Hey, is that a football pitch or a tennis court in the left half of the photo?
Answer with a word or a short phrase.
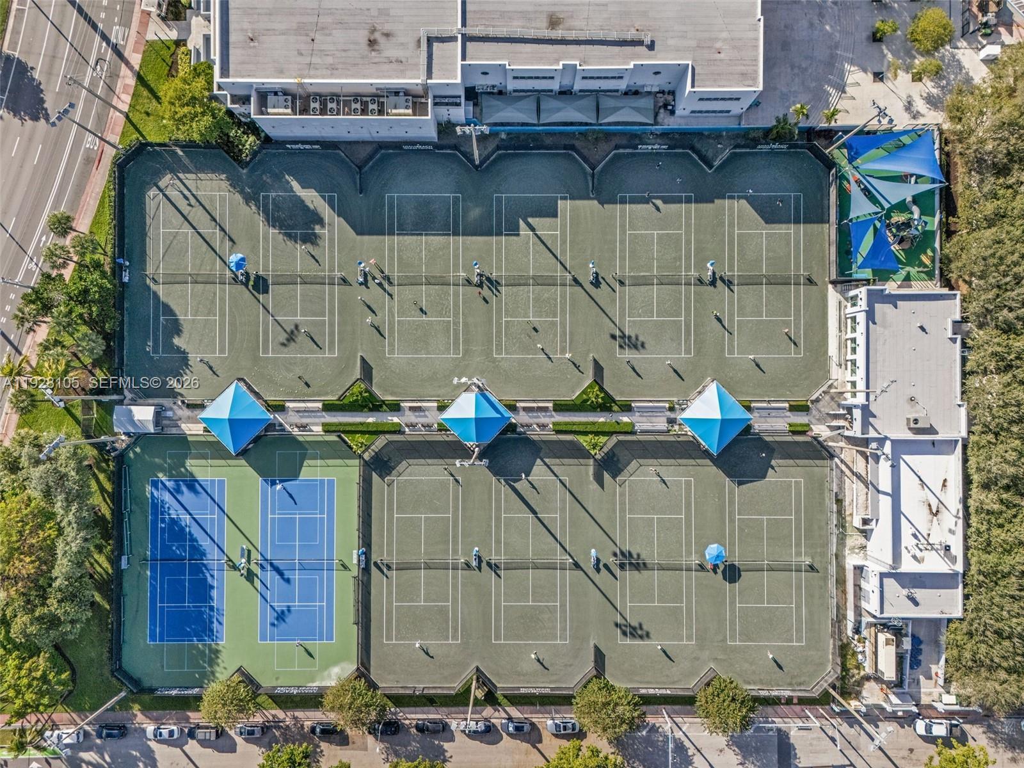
tennis court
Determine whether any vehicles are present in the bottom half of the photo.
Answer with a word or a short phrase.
Yes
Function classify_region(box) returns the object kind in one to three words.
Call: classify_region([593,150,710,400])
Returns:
tennis court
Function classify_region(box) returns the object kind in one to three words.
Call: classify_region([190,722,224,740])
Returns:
car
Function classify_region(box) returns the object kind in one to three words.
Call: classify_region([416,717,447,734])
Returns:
car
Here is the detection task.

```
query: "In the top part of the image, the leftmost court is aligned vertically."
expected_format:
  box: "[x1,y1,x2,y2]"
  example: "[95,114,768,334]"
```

[124,148,243,400]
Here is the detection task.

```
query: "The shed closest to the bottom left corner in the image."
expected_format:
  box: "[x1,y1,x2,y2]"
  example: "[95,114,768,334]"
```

[115,407,171,433]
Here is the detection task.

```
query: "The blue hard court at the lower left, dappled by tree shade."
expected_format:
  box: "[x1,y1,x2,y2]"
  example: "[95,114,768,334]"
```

[122,436,241,687]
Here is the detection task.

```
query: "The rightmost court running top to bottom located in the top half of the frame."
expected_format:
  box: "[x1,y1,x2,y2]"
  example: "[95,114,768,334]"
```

[710,150,831,400]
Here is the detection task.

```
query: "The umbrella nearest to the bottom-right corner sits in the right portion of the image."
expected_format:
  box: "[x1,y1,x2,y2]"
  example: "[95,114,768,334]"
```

[705,544,725,564]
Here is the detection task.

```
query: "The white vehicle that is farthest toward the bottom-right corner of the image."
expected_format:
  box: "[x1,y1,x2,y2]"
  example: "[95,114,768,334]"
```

[914,717,956,736]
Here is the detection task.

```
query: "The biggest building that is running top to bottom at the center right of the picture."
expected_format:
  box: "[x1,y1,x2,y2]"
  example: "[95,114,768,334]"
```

[821,286,967,618]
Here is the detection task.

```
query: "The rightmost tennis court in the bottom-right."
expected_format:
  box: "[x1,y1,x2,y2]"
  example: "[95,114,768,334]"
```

[712,435,831,689]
